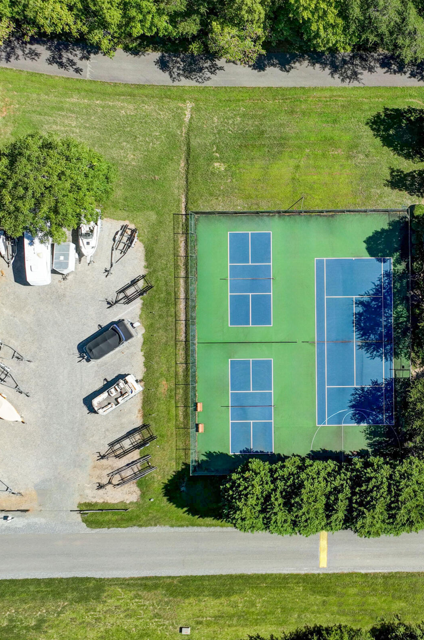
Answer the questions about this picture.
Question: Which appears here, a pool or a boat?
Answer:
boat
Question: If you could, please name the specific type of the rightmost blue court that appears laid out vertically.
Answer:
tennis court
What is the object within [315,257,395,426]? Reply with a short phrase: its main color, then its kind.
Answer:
blue tennis court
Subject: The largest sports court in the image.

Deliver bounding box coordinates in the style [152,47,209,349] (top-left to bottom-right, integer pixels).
[196,213,411,476]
